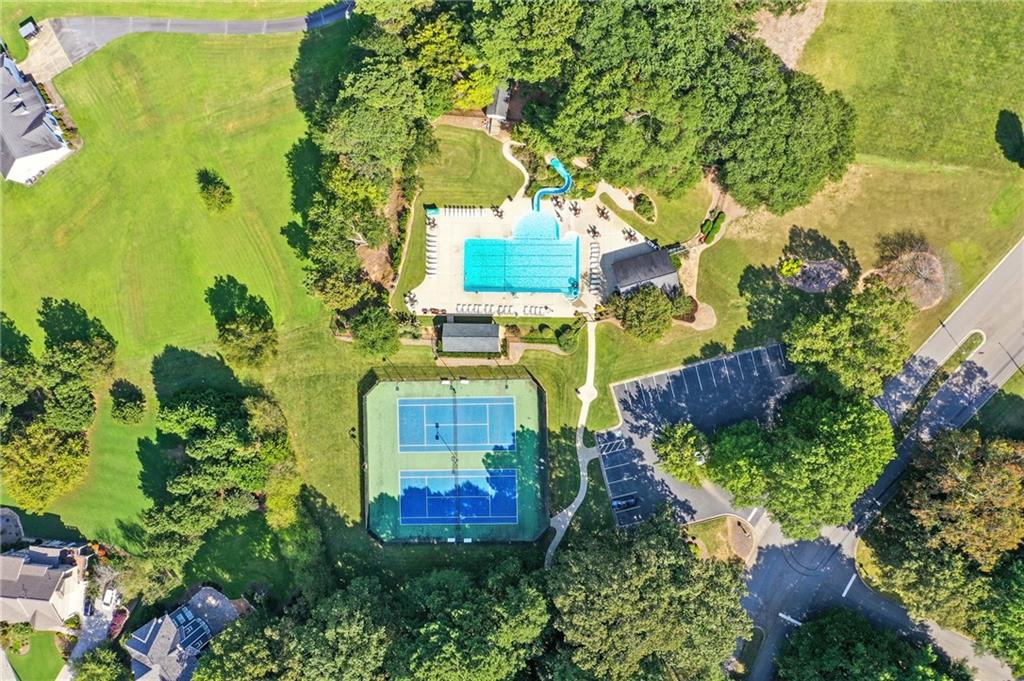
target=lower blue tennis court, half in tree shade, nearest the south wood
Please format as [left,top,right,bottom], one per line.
[368,461,548,541]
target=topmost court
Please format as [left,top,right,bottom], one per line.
[367,379,547,461]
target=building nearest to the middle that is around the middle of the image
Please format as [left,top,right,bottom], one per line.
[440,322,500,352]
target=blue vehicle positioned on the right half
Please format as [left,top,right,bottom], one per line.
[613,496,637,510]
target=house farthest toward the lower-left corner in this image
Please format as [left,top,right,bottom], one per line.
[0,548,80,635]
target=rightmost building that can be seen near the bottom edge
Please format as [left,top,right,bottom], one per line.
[123,595,202,681]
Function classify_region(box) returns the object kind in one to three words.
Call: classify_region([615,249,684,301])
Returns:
building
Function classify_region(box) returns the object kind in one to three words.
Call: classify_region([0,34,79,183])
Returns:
house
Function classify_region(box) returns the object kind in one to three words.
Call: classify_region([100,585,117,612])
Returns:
car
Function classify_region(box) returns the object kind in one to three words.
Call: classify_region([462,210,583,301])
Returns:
swimming pool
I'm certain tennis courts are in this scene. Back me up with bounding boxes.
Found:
[367,379,547,461]
[368,461,548,541]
